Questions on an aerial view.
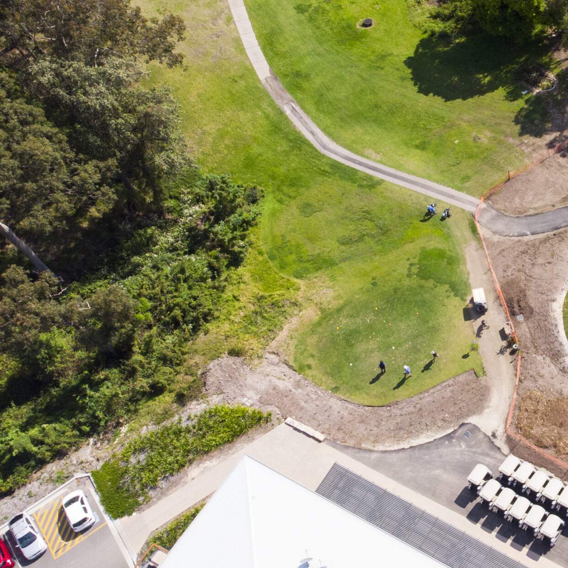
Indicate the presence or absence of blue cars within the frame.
No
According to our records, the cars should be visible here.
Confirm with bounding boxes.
[0,546,16,568]
[6,512,50,561]
[63,490,98,537]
